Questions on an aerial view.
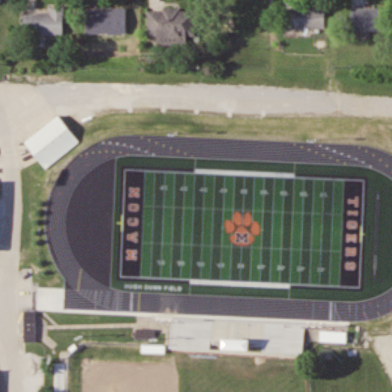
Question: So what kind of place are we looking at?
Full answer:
This looks like a sports ground.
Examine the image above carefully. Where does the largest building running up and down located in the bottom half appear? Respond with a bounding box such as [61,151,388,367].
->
[24,312,36,342]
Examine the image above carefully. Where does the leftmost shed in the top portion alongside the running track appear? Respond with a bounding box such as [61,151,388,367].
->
[26,117,78,168]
